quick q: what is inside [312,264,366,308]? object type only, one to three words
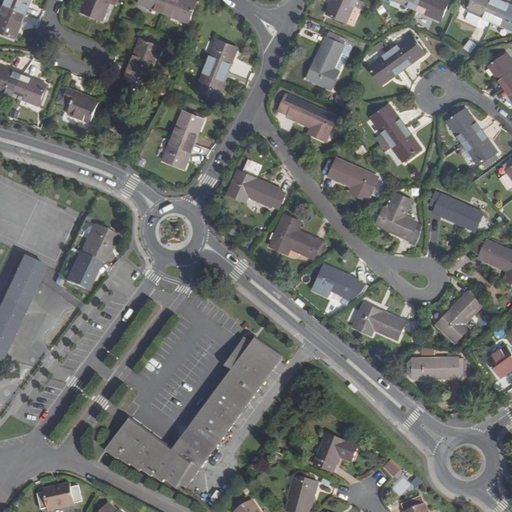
house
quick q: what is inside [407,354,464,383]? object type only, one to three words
house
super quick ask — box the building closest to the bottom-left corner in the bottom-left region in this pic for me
[36,482,82,512]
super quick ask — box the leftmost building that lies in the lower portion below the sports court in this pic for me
[0,253,49,366]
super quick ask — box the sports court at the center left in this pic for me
[0,179,76,262]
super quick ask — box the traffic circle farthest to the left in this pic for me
[140,198,207,265]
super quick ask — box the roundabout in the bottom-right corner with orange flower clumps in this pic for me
[432,428,500,497]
